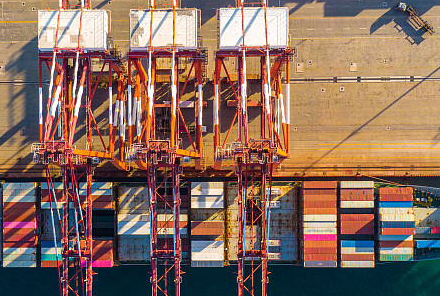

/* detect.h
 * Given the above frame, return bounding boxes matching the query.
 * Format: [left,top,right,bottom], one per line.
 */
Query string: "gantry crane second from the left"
[124,0,213,296]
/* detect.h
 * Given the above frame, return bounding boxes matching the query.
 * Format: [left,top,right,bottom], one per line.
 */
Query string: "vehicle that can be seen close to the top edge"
[399,1,437,34]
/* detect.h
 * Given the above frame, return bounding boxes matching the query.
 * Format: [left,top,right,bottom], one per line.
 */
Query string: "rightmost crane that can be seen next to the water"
[202,0,300,296]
